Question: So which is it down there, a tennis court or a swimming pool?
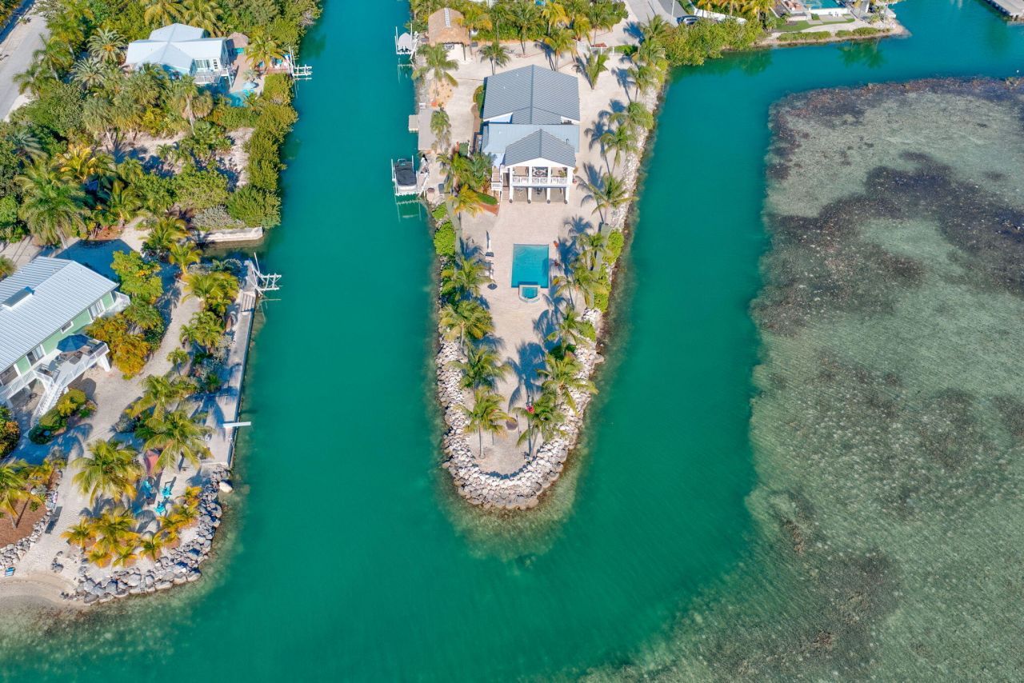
swimming pool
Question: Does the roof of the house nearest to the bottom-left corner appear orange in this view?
No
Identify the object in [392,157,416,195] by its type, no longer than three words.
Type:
boat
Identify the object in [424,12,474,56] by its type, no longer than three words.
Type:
shed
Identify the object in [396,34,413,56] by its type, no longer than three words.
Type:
boat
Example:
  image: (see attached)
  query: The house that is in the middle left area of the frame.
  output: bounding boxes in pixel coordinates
[0,261,133,428]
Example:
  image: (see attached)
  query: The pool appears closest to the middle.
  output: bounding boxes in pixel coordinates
[508,242,552,299]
